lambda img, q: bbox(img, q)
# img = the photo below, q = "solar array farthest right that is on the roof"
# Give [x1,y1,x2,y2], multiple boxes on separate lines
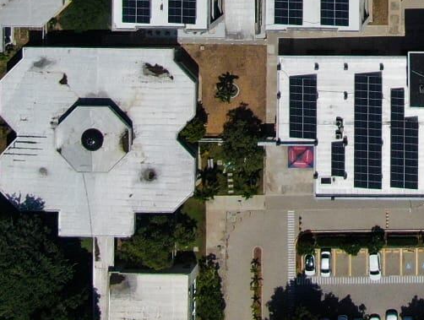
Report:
[390,88,417,189]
